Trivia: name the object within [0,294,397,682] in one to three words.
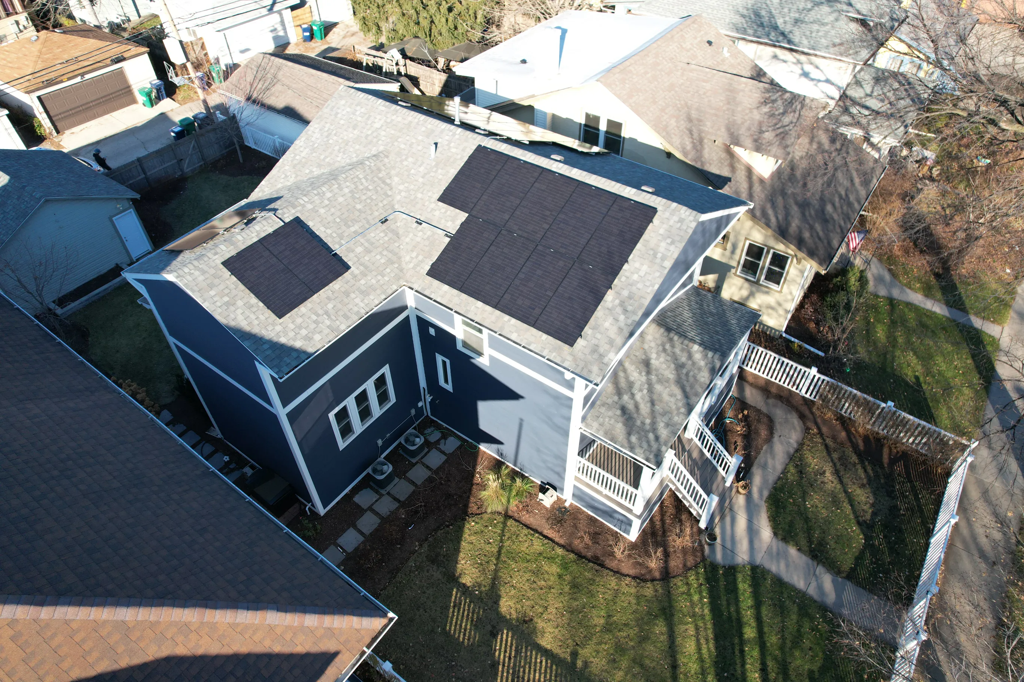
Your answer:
house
